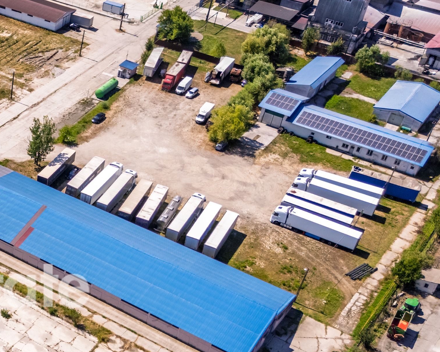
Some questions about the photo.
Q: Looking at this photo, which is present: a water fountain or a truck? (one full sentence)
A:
There is a truck in the scene.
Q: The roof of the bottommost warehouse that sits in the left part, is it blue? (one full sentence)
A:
Yes, the roof of the bottommost warehouse that sits in the left part appears blue.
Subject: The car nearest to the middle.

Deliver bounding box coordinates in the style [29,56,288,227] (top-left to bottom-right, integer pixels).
[214,139,232,152]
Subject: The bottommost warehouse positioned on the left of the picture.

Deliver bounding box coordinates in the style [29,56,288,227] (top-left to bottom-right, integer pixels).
[0,167,300,352]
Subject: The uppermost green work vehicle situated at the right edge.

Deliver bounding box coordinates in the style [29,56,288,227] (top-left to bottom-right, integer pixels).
[402,296,421,317]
